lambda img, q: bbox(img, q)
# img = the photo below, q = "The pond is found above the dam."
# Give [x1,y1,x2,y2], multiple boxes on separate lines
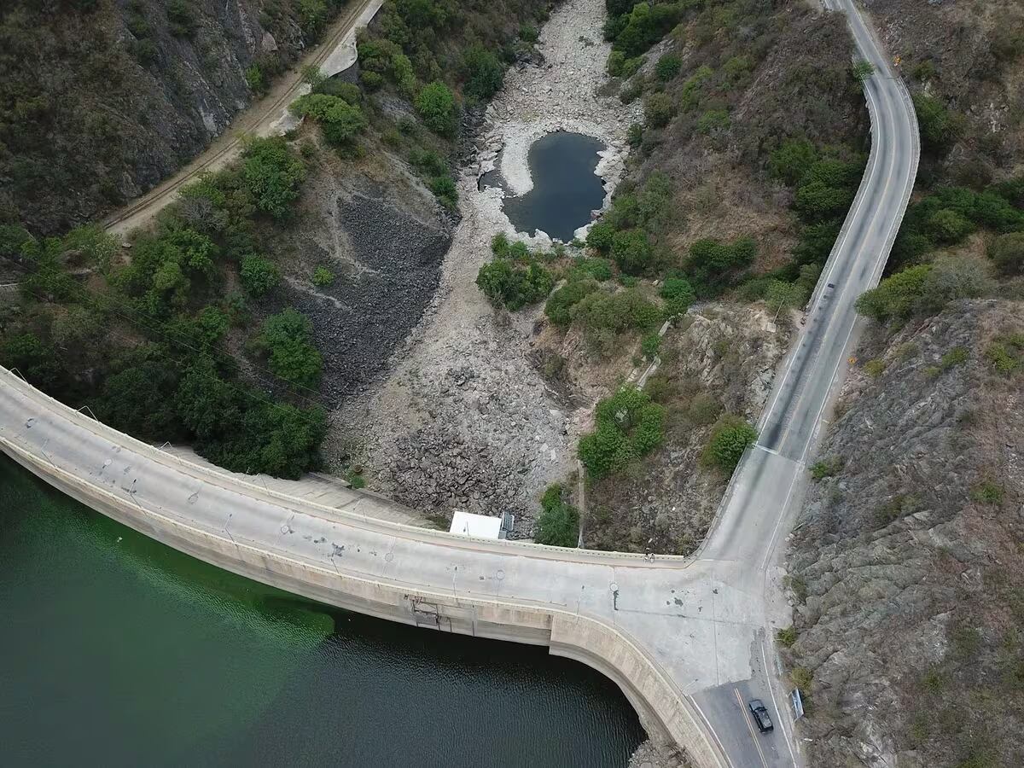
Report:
[479,132,606,243]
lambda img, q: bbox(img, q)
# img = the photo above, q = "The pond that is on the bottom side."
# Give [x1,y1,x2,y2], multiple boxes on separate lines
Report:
[0,451,657,768]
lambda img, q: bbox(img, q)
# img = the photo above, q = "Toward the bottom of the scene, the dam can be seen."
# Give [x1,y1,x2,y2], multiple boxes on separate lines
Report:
[0,348,775,768]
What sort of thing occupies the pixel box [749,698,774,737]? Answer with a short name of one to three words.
car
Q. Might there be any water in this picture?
Yes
